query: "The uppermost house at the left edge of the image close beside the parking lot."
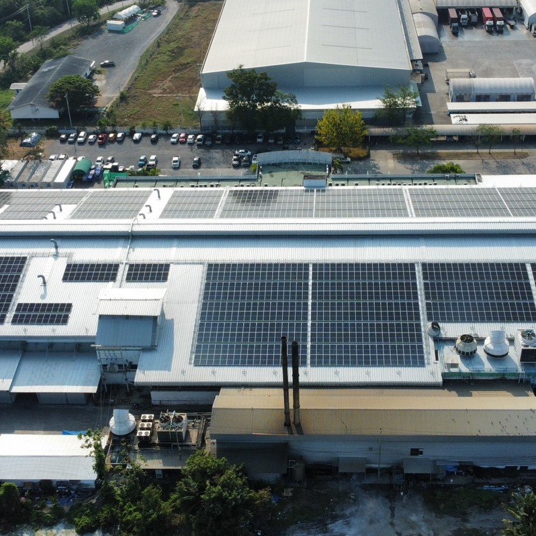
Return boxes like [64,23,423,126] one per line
[11,54,94,123]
